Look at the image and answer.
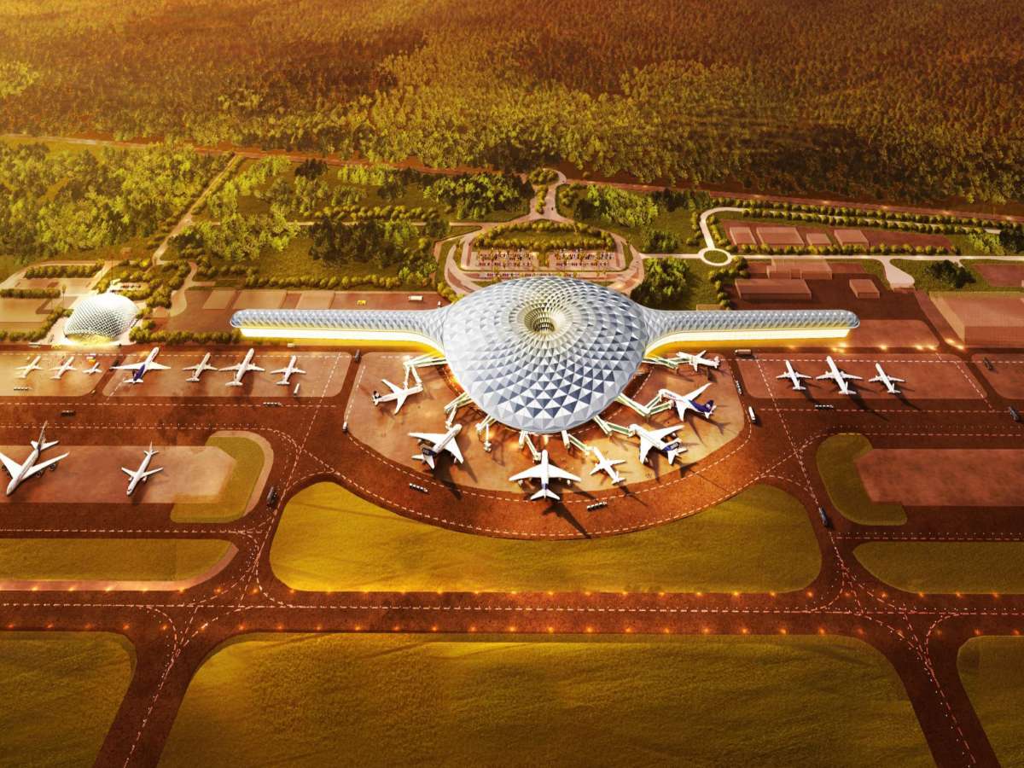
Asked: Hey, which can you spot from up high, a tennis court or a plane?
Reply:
plane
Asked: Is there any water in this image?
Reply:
No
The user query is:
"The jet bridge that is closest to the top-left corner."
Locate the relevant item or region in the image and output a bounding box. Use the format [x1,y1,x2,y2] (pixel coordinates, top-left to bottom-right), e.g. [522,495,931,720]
[403,351,444,389]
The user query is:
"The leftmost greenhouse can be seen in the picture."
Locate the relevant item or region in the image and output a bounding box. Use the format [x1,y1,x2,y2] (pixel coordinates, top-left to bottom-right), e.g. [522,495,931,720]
[65,295,141,340]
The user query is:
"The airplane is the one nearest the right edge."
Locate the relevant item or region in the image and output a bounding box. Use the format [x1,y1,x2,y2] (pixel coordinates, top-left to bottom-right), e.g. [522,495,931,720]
[865,363,908,393]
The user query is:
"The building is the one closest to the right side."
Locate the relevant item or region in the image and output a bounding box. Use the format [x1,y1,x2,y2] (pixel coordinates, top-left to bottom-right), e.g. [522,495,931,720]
[925,291,1024,345]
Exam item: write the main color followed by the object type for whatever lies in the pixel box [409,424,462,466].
white airplane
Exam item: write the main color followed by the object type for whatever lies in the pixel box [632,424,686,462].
white airplane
